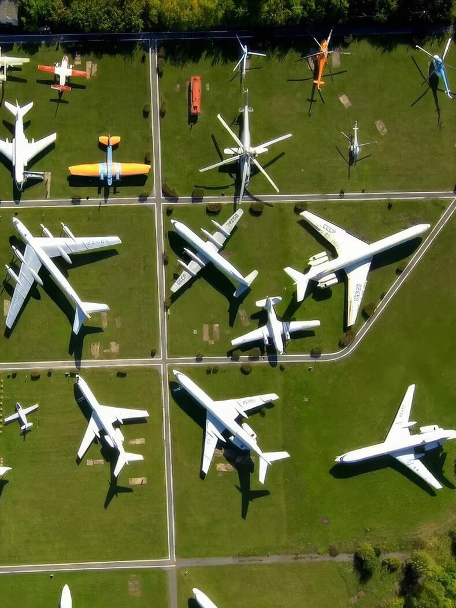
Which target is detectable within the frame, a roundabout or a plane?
plane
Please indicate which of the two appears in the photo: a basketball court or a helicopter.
helicopter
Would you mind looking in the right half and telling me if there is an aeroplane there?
Yes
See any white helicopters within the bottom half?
No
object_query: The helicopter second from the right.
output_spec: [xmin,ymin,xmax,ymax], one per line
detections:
[342,125,376,167]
